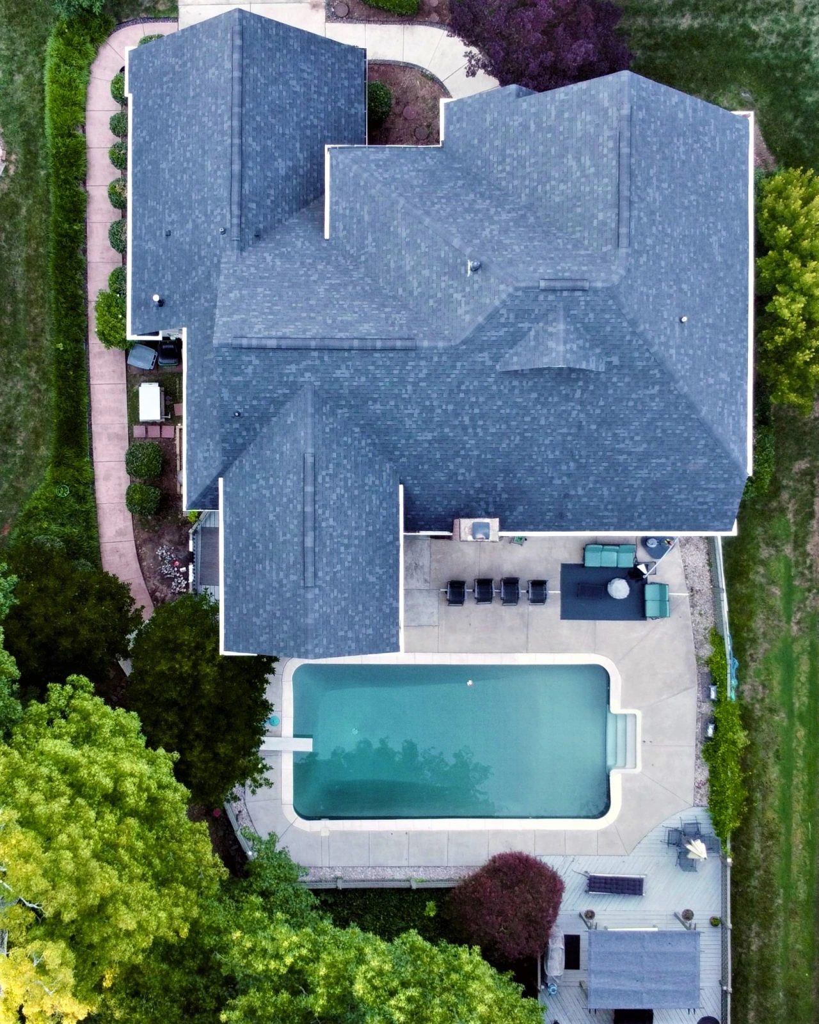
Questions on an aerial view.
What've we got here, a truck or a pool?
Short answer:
pool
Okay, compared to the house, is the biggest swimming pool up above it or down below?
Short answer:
below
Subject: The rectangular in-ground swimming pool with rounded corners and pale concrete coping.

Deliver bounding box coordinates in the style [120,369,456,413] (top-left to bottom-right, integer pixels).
[282,654,641,837]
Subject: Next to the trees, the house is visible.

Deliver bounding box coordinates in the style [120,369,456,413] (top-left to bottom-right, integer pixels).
[125,9,755,659]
